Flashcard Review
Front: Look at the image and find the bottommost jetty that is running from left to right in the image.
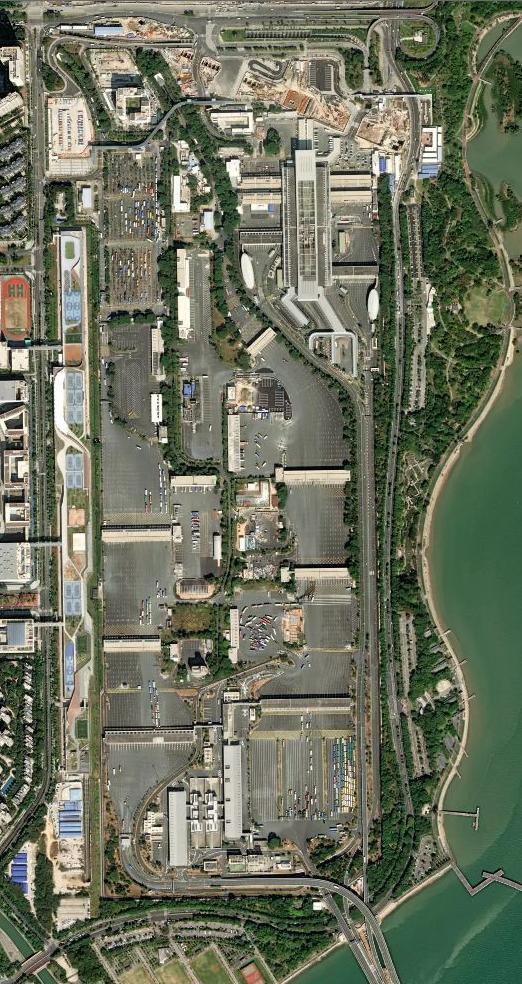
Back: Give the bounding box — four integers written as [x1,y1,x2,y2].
[451,861,522,895]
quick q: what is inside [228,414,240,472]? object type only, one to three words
shed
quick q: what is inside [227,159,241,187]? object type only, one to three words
building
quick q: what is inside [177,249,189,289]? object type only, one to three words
building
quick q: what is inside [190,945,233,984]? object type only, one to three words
sports field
